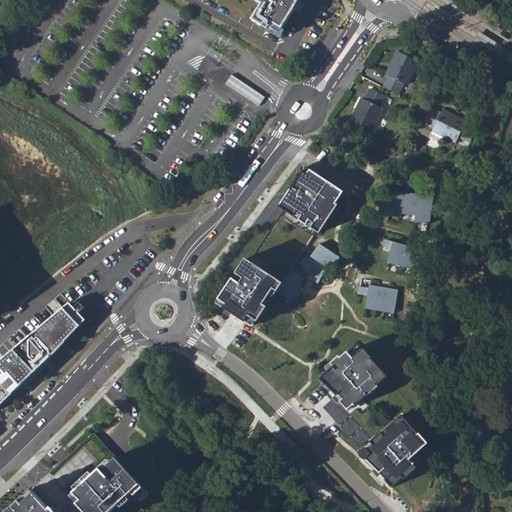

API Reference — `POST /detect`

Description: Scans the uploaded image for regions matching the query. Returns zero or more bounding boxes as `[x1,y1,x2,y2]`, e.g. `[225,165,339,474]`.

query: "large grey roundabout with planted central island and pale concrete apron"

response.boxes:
[132,281,194,343]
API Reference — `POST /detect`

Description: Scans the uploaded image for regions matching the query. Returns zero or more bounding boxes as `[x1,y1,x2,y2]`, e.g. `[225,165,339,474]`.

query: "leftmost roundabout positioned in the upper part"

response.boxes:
[278,85,328,136]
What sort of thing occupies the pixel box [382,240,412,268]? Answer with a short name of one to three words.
house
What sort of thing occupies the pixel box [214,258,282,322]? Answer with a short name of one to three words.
building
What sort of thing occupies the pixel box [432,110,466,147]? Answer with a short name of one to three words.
house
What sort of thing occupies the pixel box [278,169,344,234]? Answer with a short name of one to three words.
building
